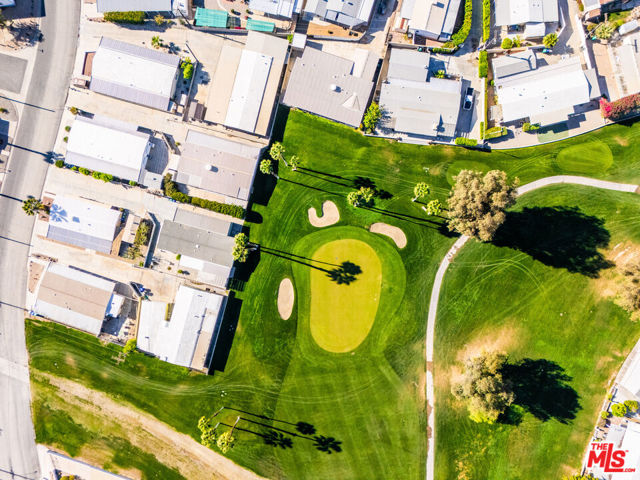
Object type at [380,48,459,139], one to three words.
house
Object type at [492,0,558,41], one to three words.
house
